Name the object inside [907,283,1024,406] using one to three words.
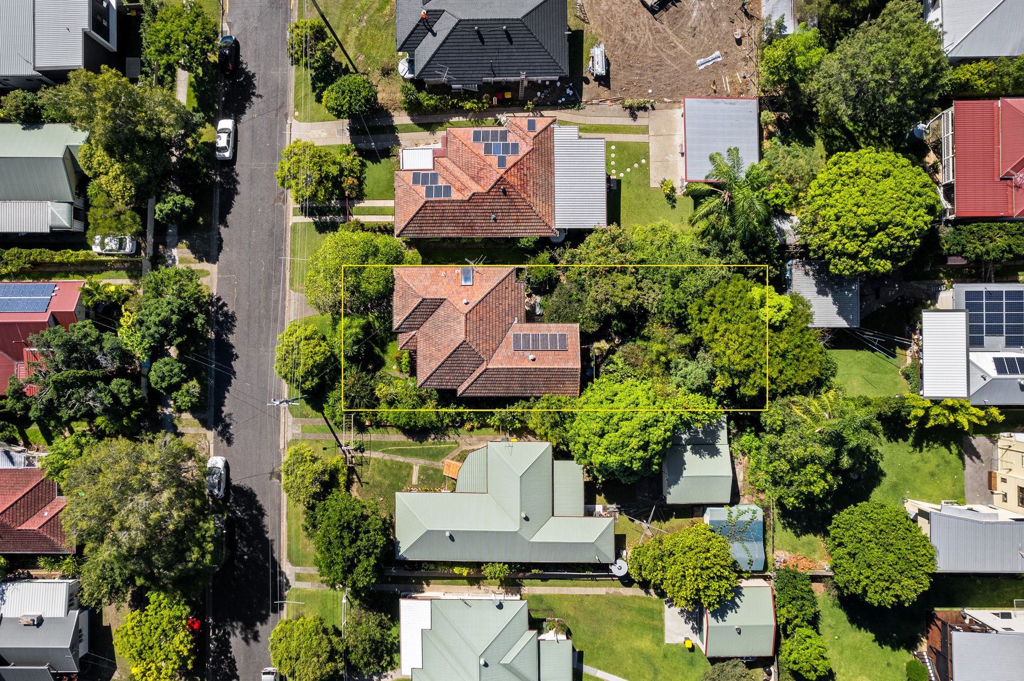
house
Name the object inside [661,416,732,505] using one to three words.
building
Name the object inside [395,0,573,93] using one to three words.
house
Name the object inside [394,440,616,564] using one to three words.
building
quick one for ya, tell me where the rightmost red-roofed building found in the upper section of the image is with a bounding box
[930,97,1024,221]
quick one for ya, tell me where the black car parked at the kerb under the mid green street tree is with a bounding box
[217,35,239,75]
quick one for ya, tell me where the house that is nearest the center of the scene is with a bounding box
[392,264,580,398]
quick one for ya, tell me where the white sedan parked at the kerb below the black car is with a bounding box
[214,120,235,160]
